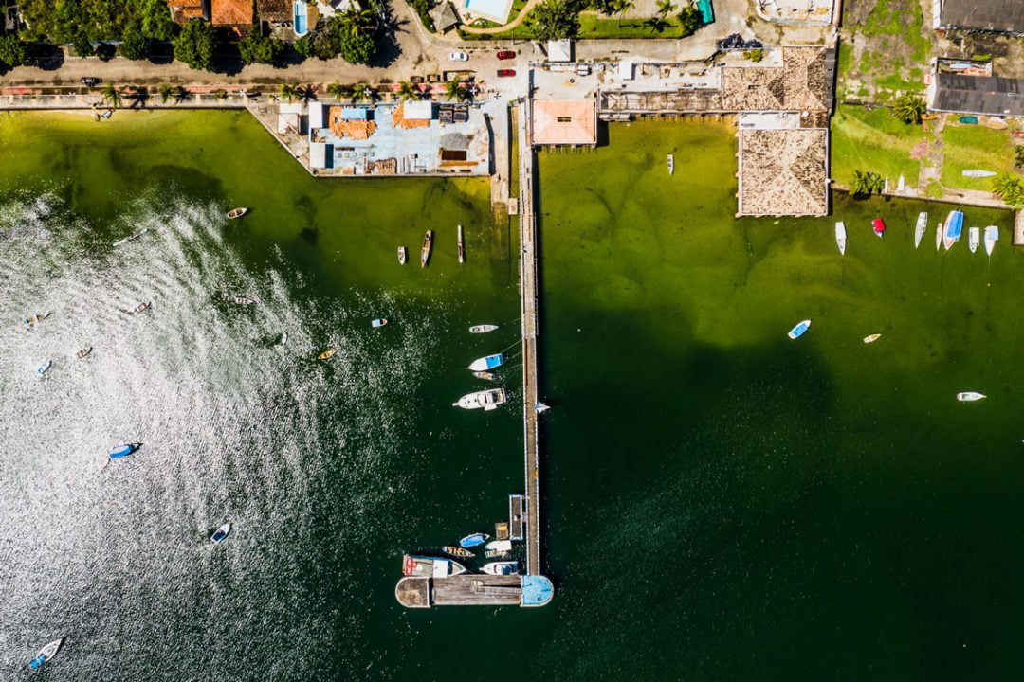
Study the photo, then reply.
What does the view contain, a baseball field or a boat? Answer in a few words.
boat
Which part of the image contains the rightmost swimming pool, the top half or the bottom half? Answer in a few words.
top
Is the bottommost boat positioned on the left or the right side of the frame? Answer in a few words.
left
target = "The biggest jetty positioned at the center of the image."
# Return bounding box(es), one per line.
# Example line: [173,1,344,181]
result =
[518,101,540,577]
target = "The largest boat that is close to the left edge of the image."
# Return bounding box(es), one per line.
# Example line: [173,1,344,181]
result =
[25,638,64,672]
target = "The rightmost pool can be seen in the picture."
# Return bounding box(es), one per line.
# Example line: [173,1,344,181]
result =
[458,0,507,25]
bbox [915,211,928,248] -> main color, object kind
white boat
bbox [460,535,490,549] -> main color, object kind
blue boat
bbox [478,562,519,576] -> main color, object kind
white boat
